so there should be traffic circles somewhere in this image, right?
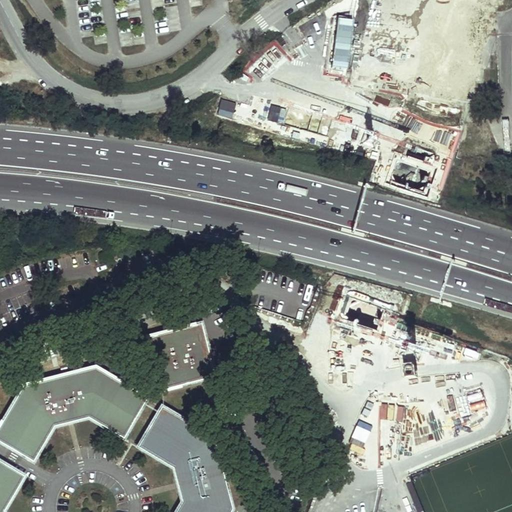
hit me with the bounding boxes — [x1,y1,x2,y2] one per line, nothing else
[44,452,140,512]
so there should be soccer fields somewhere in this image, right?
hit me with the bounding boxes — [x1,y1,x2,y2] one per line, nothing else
[410,432,512,512]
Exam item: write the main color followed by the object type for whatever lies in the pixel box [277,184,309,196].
white vehicle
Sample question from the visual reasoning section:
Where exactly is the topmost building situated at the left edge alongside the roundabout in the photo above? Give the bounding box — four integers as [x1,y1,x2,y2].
[0,366,146,462]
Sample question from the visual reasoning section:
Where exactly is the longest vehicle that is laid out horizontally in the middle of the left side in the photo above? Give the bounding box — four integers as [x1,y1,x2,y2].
[74,206,116,218]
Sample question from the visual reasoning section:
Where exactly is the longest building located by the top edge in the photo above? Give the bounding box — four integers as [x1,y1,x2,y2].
[332,10,354,68]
